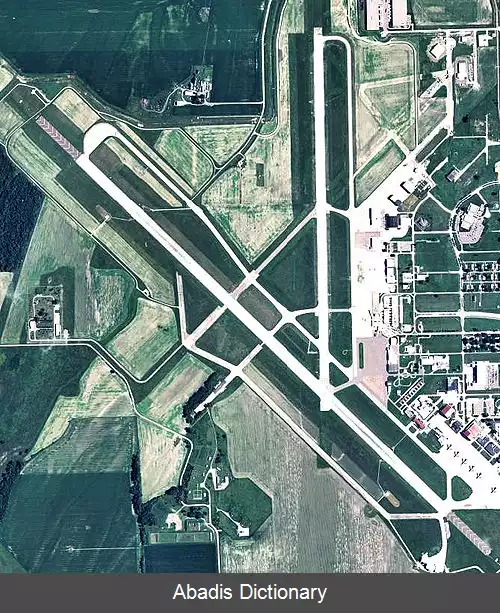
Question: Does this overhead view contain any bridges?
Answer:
No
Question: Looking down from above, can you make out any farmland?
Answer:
Yes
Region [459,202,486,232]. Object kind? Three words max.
building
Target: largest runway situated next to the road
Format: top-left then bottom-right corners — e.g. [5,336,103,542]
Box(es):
[35,115,493,559]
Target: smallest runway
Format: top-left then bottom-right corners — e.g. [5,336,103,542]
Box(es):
[314,27,331,411]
